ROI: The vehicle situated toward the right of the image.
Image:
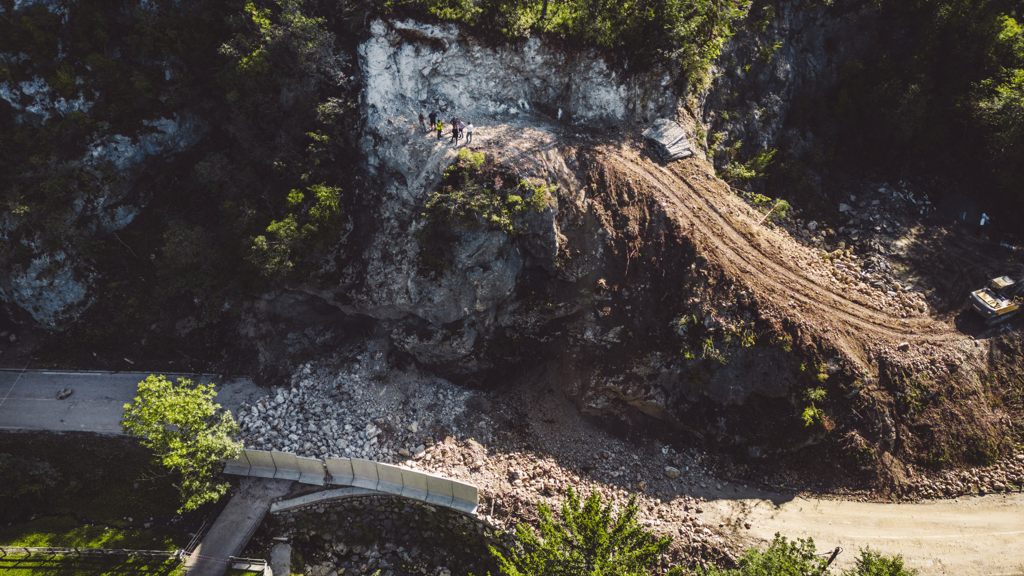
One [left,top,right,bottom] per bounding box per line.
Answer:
[963,274,1024,338]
